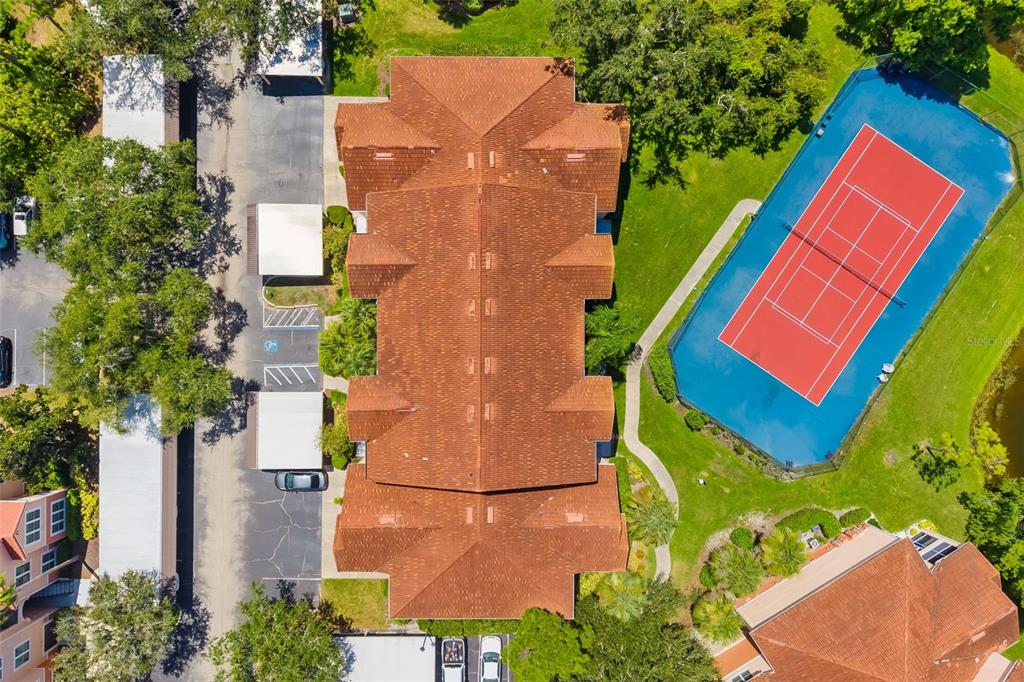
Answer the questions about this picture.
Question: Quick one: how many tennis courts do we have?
1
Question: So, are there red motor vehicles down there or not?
No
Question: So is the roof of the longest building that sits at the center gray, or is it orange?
orange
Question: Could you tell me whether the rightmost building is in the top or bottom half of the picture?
bottom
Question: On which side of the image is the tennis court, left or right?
right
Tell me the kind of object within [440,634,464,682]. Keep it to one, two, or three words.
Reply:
truck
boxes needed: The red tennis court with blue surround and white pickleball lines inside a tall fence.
[670,65,1013,467]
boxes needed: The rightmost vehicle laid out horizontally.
[274,471,327,494]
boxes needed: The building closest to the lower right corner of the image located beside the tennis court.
[712,522,1024,682]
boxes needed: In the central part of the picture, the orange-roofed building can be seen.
[335,56,626,618]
